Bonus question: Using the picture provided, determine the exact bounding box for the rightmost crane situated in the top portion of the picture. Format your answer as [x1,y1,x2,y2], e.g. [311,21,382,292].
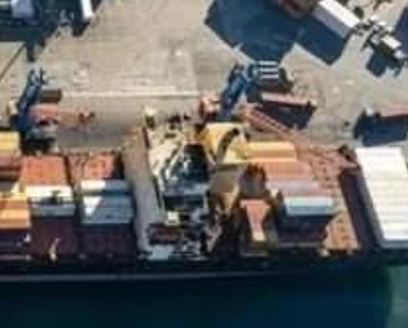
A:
[186,66,265,138]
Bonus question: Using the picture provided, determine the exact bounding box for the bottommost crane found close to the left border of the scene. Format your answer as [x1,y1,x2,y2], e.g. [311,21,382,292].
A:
[12,69,52,157]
